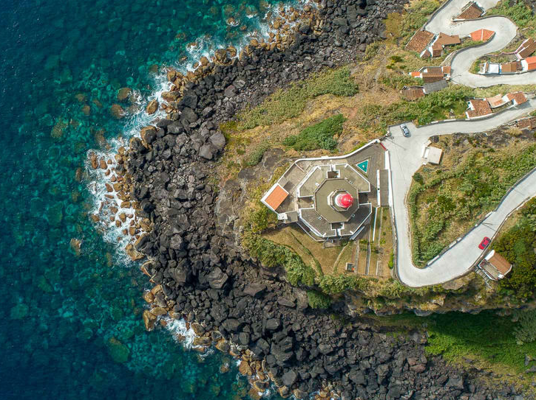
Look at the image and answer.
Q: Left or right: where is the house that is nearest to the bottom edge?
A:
right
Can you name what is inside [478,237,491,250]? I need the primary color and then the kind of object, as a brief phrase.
red vehicle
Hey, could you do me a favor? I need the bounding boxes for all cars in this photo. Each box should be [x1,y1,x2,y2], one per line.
[478,237,491,250]
[400,122,410,137]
